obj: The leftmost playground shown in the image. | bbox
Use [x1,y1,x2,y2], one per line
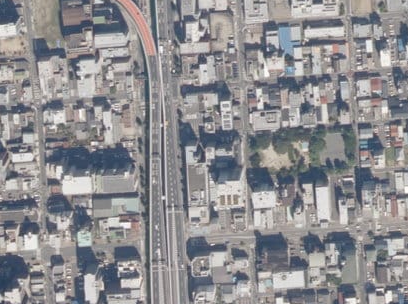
[261,144,292,168]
